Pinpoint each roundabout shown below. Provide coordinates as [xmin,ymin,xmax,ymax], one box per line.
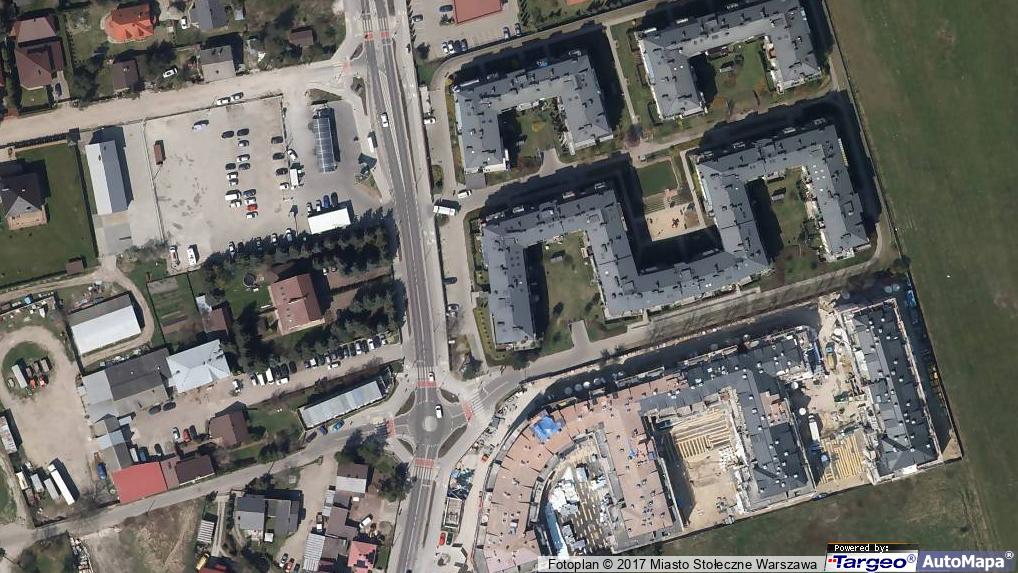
[404,395,456,448]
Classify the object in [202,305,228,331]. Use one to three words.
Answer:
shed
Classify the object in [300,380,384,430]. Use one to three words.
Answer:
building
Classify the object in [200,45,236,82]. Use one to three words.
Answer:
house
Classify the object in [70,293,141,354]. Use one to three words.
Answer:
barn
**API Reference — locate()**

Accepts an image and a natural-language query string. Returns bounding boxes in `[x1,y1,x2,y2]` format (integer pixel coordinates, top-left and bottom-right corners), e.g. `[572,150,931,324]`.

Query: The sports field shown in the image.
[636,159,677,198]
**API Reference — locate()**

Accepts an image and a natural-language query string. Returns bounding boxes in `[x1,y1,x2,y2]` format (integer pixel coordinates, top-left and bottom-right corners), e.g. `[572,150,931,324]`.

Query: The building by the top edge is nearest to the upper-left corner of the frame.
[16,16,56,44]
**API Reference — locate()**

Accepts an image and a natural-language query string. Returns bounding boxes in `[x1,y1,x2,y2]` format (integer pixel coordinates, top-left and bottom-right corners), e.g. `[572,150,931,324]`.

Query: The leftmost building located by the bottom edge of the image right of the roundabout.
[476,366,687,573]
